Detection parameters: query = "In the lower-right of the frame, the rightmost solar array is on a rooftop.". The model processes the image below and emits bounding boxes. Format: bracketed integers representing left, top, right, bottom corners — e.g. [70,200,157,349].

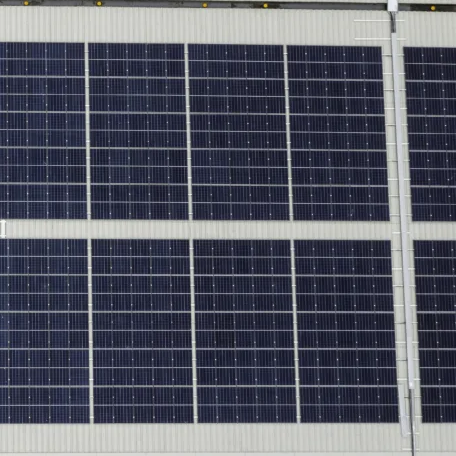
[413,240,456,423]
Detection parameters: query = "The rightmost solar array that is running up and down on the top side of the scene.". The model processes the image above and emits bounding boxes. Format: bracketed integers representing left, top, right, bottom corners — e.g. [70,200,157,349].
[403,47,456,223]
